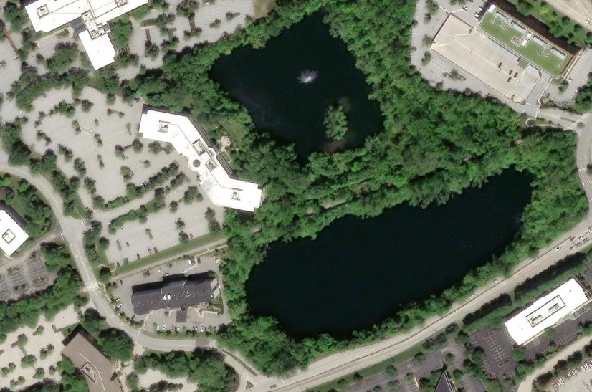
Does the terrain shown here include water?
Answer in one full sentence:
Yes, the picture does contain water.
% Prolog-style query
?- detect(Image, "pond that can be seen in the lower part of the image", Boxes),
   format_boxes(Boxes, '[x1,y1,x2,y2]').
[248,169,532,339]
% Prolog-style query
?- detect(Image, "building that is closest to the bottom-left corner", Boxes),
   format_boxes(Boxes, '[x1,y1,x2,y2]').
[62,333,124,392]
